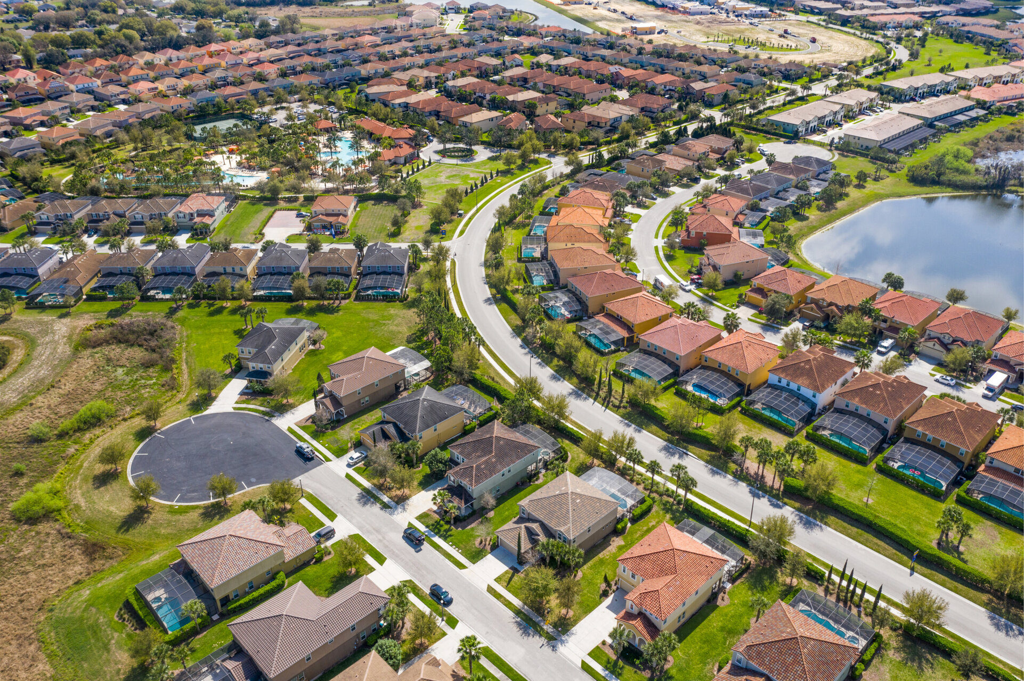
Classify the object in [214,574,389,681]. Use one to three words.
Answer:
house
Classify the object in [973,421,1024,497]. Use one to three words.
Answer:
house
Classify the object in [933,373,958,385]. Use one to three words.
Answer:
vehicle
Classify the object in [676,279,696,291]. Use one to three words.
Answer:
vehicle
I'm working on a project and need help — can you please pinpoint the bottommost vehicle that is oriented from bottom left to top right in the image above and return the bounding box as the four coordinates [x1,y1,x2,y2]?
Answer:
[310,520,339,543]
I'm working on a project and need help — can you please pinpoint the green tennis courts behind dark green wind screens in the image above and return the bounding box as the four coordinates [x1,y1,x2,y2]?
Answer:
[178,108,266,140]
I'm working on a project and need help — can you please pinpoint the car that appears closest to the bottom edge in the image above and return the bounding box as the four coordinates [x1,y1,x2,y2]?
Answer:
[428,582,453,605]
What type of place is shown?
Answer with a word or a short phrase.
residential area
